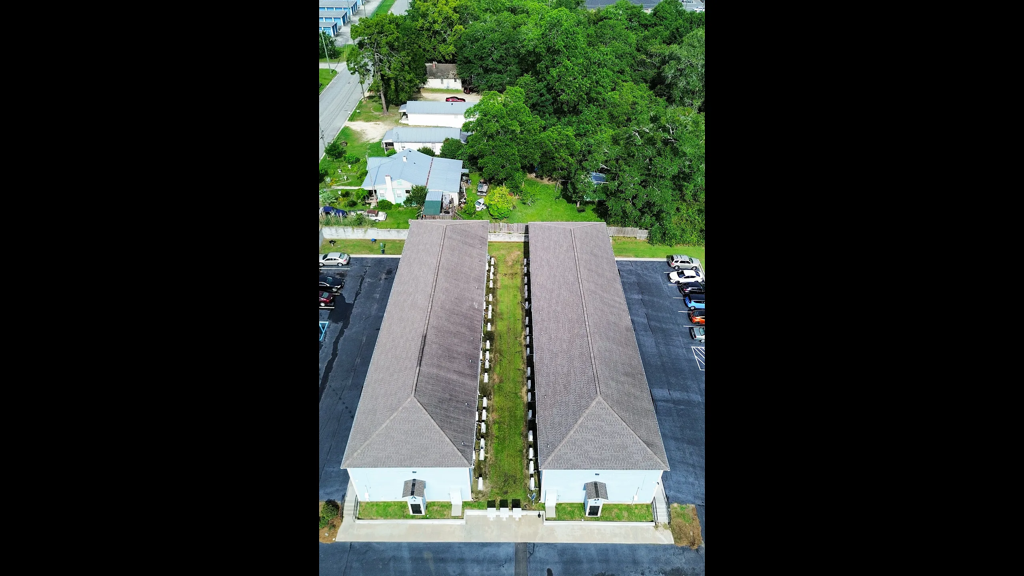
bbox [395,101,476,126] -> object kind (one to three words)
house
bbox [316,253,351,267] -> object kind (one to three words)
car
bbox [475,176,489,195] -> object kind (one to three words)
car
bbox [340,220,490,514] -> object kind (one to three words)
building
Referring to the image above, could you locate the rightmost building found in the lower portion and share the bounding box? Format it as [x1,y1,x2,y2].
[527,222,670,515]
